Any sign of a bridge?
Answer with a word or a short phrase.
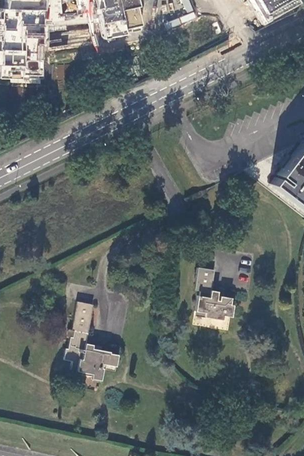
No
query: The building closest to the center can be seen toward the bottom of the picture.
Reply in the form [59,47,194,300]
[196,268,214,291]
